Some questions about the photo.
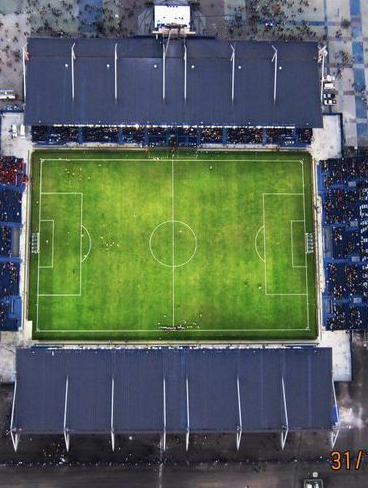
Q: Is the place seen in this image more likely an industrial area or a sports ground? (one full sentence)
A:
What you see here is a sports ground.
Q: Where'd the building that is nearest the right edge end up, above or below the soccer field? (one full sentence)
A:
The position of the building that is nearest the right edge is above the soccer field.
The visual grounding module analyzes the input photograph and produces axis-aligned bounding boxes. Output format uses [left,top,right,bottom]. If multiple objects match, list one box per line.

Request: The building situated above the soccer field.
[139,0,207,48]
